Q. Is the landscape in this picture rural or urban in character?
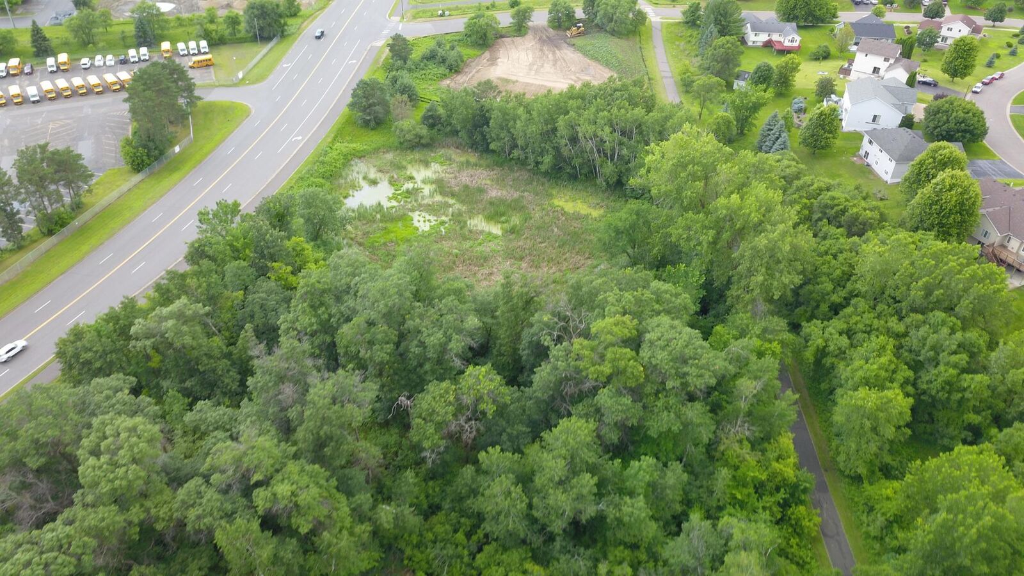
rural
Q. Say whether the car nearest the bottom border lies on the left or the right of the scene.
left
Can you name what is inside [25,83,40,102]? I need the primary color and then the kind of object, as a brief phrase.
white vehicle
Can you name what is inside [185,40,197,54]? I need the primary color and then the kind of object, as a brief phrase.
white vehicle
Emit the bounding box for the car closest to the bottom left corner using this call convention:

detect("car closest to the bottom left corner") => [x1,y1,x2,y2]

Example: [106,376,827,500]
[0,342,26,364]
